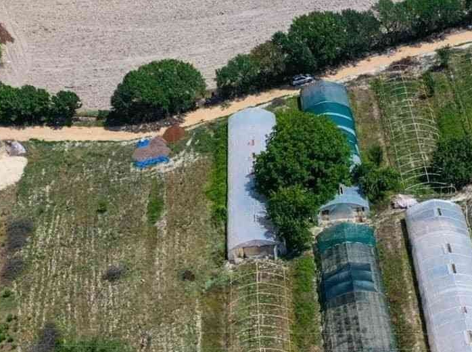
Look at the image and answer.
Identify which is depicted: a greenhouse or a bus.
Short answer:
greenhouse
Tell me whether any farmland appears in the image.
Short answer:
Yes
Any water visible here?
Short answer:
No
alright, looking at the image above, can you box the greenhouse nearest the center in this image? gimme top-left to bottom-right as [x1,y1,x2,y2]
[231,108,292,262]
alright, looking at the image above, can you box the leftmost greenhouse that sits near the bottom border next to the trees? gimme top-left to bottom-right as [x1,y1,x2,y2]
[318,223,395,352]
